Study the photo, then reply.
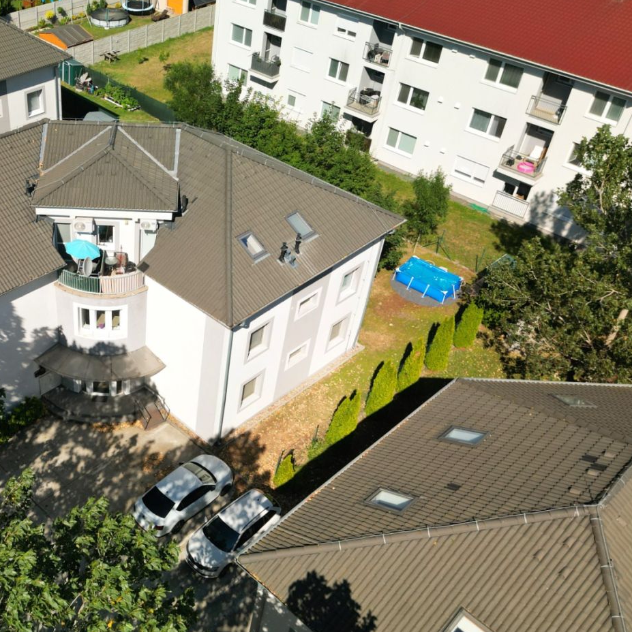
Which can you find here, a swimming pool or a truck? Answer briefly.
swimming pool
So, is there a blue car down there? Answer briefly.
No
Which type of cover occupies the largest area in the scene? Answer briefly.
buildings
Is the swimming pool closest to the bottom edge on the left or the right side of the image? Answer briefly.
right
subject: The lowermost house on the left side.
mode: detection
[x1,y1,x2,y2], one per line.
[0,110,408,454]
